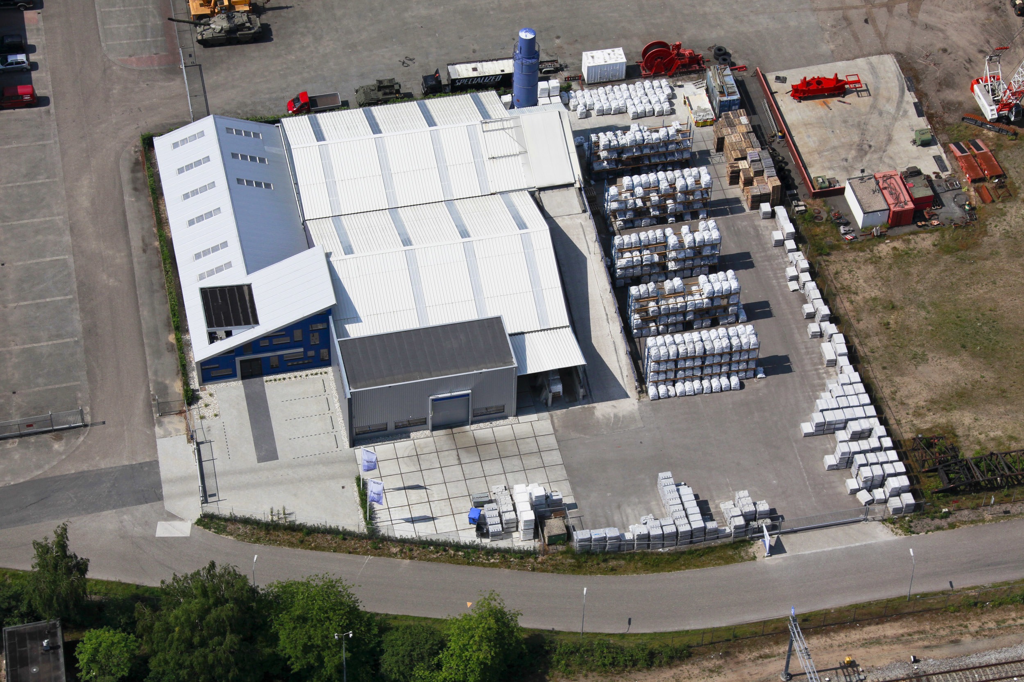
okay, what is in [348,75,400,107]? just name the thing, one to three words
vehicle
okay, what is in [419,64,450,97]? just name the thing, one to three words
truck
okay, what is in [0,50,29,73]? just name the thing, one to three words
car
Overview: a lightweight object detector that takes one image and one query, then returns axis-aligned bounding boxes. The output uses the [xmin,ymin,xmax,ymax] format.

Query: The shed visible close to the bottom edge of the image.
[2,617,67,682]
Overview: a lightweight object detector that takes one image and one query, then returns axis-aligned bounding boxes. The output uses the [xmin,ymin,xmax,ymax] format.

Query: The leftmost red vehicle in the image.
[0,83,36,109]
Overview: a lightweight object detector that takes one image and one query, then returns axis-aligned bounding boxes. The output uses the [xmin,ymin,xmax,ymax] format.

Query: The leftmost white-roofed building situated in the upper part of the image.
[150,113,338,387]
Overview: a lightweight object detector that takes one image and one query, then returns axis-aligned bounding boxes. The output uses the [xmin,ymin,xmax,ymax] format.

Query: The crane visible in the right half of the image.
[962,38,1024,135]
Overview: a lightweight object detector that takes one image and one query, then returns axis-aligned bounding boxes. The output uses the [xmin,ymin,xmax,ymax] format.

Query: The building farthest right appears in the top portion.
[848,173,890,229]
